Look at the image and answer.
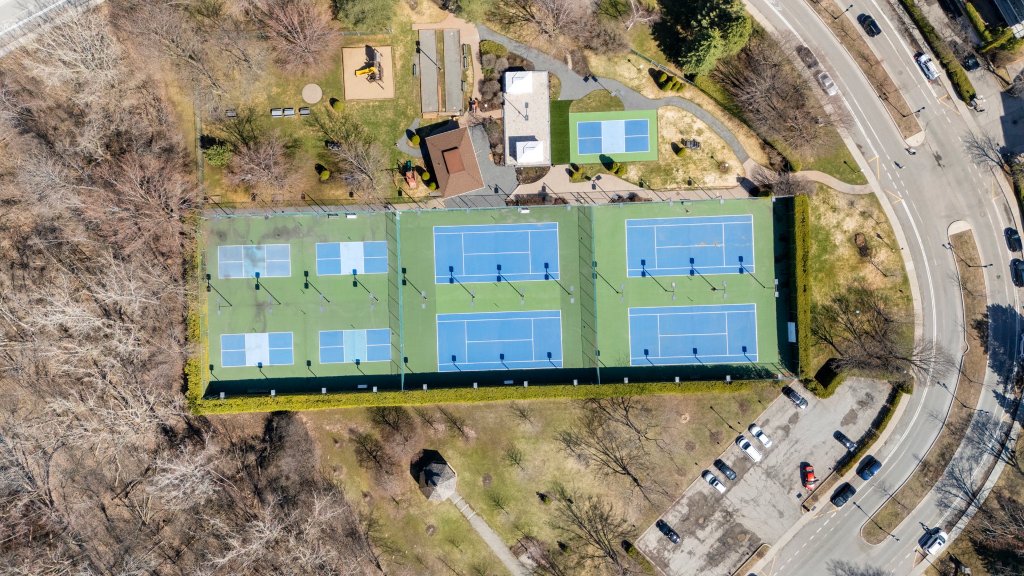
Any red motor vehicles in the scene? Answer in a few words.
Yes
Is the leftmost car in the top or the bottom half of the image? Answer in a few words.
bottom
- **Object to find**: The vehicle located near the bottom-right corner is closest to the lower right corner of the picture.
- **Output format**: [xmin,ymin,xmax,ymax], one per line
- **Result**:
[922,529,949,555]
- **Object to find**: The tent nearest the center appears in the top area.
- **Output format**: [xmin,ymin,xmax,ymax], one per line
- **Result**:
[517,141,544,165]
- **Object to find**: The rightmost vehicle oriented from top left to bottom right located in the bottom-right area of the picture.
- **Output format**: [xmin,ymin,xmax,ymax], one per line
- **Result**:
[834,430,857,452]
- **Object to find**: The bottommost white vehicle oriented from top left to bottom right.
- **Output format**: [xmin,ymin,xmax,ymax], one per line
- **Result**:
[703,470,726,493]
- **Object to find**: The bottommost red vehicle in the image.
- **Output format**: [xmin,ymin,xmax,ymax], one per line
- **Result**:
[802,465,819,490]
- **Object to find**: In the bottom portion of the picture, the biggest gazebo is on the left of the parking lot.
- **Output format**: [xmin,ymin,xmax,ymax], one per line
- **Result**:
[419,460,457,500]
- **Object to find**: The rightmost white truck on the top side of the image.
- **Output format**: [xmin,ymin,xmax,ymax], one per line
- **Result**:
[916,53,946,82]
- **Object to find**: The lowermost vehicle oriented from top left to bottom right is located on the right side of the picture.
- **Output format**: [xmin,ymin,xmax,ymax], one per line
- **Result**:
[657,520,679,542]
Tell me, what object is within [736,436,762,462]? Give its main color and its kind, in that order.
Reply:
white car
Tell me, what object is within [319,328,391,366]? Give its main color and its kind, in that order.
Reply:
blue sports court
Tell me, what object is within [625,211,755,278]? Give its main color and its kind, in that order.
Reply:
blue tennis court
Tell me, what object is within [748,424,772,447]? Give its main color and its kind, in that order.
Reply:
white car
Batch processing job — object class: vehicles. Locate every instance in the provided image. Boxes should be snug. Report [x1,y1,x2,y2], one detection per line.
[1019,333,1024,358]
[712,458,736,481]
[916,53,946,82]
[748,424,772,447]
[1003,226,1021,253]
[857,455,883,478]
[796,45,818,71]
[834,430,857,452]
[922,529,949,555]
[961,50,981,75]
[657,520,679,542]
[736,436,762,462]
[831,485,857,508]
[782,386,807,409]
[817,72,838,97]
[860,14,882,39]
[703,470,726,493]
[802,465,819,490]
